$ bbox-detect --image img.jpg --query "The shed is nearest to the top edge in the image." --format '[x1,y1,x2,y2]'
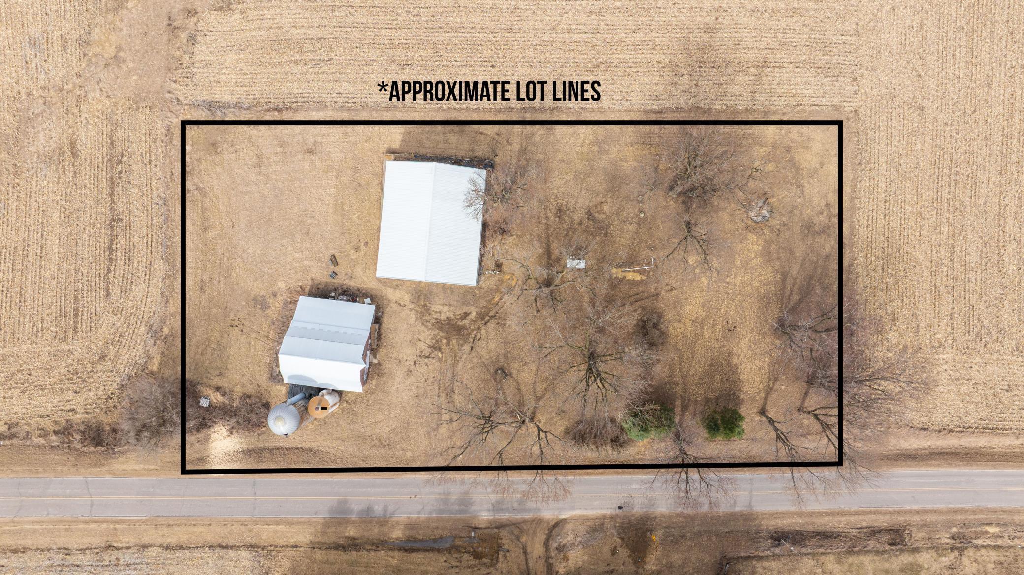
[376,161,487,286]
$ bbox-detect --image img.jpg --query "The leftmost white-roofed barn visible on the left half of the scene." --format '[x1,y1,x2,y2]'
[278,296,375,392]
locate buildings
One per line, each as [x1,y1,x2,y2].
[278,296,375,392]
[376,161,487,286]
